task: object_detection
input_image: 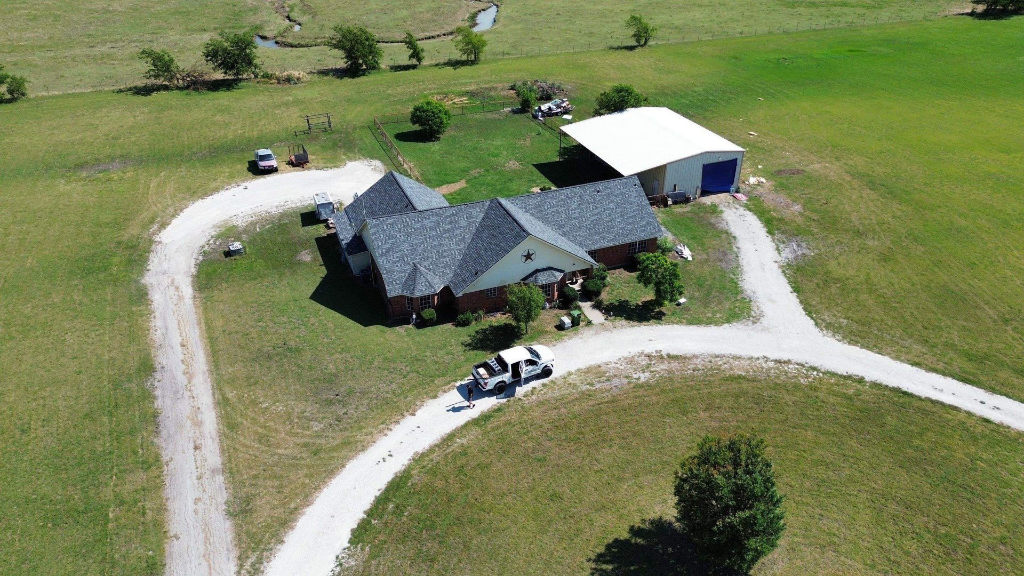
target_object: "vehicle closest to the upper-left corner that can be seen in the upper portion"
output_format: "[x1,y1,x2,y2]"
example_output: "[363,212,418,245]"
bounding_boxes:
[255,145,276,170]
